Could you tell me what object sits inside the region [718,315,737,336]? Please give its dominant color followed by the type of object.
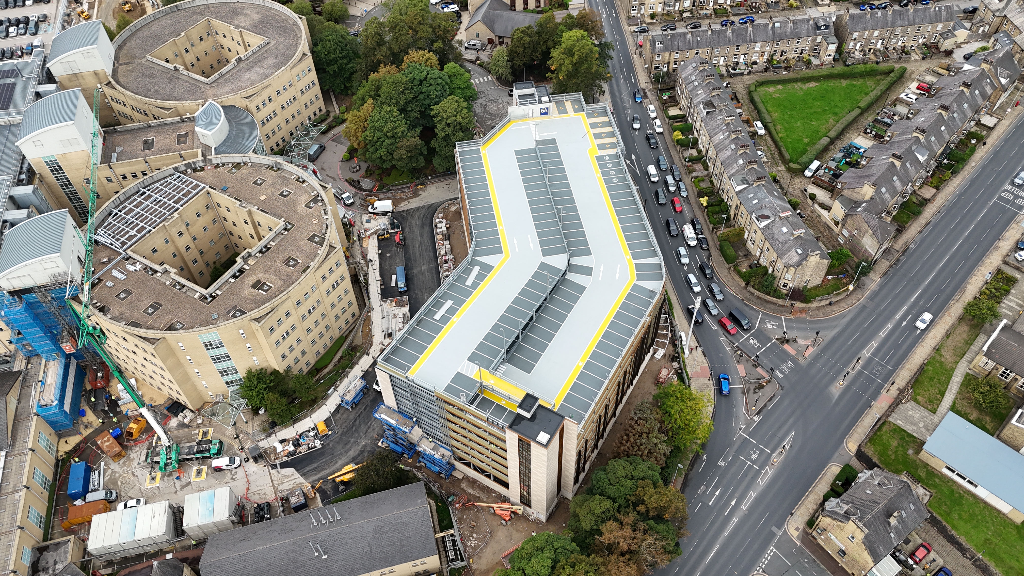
red car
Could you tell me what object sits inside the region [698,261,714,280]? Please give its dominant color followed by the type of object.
black car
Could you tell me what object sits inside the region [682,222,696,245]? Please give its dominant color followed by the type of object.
white vehicle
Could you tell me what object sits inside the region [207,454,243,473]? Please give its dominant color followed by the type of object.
white vehicle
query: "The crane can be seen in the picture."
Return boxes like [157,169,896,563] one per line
[65,87,224,487]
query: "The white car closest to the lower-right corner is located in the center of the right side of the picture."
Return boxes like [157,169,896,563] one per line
[915,310,933,330]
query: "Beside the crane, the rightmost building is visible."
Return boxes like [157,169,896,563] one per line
[375,72,664,527]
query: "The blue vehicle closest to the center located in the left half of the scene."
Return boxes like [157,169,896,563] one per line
[395,262,408,292]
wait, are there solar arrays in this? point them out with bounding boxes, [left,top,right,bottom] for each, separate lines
[0,83,16,110]
[0,69,19,79]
